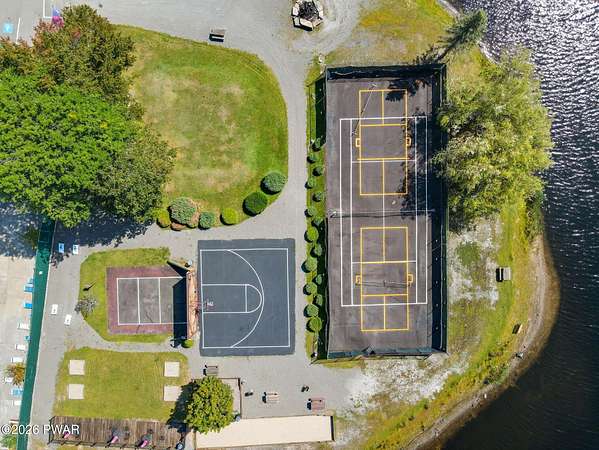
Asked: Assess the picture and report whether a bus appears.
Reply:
No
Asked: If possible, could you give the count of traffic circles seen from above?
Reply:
0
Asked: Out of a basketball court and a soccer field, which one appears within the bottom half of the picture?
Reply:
basketball court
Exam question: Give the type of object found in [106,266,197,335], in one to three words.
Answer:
sports court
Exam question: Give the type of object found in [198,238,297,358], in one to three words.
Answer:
basketball court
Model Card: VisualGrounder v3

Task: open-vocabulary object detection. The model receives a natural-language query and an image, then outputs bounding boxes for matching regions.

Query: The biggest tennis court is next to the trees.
[326,70,441,353]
